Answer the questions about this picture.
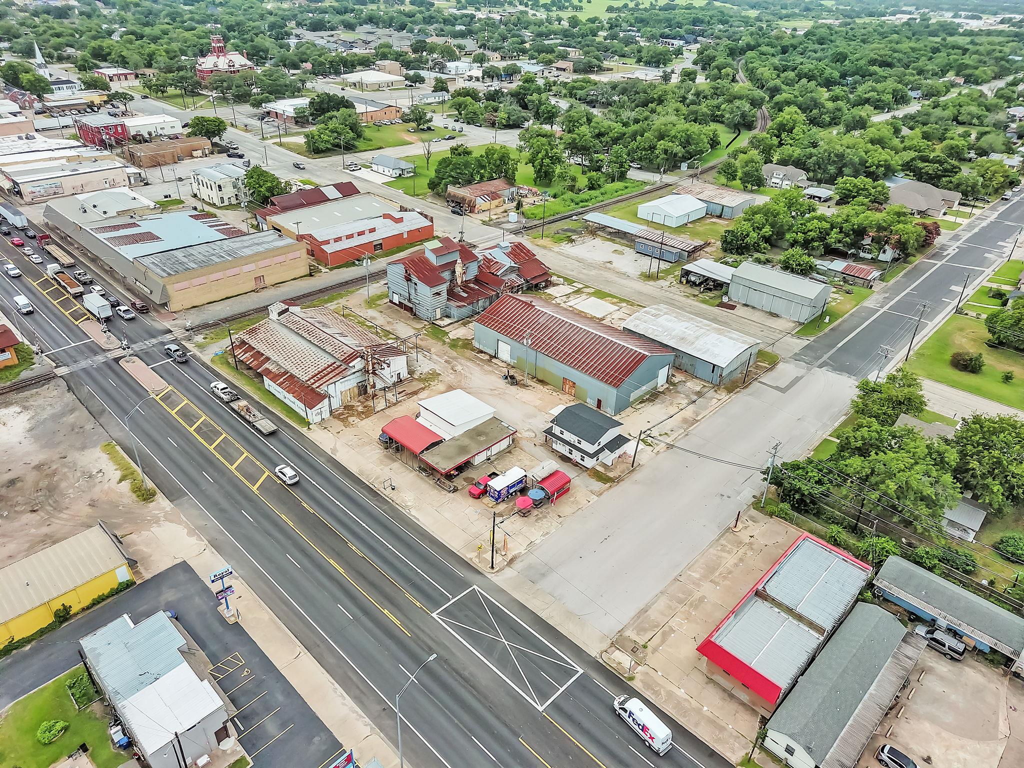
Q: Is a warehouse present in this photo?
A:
Yes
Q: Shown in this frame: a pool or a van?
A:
van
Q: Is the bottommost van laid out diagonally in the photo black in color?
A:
No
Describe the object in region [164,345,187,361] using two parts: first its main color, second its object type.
gray vehicle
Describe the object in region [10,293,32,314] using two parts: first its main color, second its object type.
white vehicle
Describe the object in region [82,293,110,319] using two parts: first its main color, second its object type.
white truck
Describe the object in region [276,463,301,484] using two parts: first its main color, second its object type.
white car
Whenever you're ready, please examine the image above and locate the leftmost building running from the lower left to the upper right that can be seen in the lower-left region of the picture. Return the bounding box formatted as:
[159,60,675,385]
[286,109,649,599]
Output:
[0,518,137,646]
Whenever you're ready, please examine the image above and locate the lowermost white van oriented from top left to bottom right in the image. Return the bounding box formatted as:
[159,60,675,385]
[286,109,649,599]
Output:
[605,693,668,751]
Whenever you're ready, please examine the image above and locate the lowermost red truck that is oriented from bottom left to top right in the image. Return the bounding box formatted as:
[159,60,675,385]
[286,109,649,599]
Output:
[469,475,496,500]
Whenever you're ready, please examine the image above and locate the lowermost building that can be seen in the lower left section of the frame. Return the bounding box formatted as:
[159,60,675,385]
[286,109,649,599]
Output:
[77,611,230,768]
